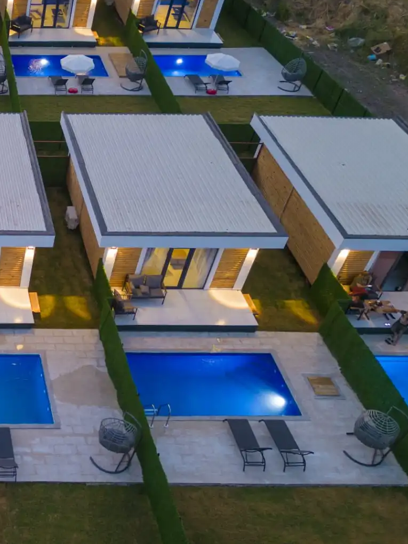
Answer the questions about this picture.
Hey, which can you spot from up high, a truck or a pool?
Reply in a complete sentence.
There is a pool in the scene.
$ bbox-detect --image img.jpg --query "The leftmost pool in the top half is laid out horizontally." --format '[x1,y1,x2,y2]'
[14,53,114,80]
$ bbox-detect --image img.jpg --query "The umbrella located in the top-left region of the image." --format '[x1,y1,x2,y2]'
[59,53,96,93]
